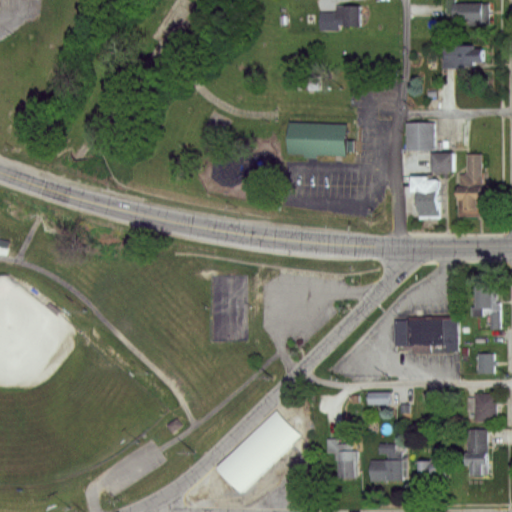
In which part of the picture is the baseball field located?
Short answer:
bottom left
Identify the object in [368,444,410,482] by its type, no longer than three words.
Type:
house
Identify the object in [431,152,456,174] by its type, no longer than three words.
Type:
building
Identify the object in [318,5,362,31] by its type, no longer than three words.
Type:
house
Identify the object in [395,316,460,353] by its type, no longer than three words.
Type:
building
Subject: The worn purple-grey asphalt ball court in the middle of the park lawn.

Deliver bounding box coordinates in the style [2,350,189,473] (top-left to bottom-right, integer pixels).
[212,276,248,341]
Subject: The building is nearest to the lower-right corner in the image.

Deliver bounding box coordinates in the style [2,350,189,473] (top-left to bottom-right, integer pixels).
[462,430,494,478]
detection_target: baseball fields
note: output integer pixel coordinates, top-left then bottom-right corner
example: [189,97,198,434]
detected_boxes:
[0,276,160,482]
